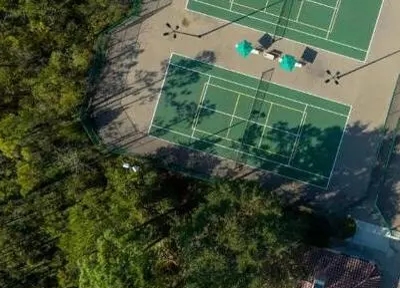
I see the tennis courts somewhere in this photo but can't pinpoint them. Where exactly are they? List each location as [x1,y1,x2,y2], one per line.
[186,0,382,61]
[149,54,350,188]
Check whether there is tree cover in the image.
Yes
